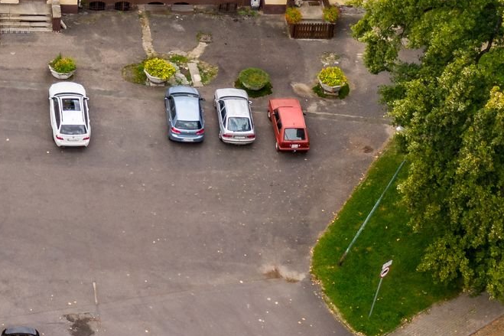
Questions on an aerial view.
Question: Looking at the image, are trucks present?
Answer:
No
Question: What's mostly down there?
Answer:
paved ground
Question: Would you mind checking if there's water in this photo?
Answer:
No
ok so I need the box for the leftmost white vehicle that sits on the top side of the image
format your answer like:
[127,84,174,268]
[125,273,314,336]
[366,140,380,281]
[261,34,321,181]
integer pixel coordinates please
[44,78,90,147]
